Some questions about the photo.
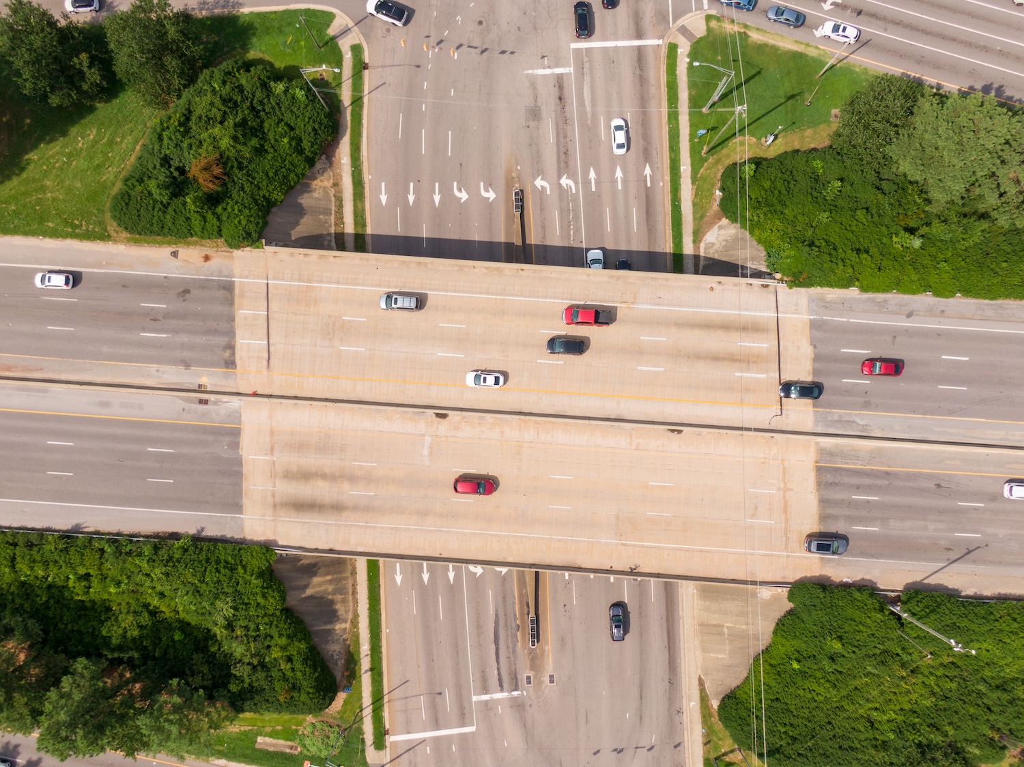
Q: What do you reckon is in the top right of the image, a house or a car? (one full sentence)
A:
Looking in the top right of the image, you will find a car.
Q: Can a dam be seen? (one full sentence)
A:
No, I find no dam anywhere in the image.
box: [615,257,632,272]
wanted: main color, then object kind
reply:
black car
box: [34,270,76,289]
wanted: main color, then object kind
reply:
white car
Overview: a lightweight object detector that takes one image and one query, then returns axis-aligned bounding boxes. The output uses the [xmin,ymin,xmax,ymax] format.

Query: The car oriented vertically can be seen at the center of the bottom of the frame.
[609,603,626,642]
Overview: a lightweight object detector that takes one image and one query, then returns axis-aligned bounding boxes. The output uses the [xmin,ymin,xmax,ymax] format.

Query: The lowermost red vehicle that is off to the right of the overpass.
[860,358,904,377]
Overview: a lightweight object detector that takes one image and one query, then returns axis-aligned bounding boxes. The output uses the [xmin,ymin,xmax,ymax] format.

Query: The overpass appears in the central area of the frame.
[234,241,818,586]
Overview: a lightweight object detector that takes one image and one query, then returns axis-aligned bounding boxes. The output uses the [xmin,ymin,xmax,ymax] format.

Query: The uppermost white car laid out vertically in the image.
[610,117,627,155]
